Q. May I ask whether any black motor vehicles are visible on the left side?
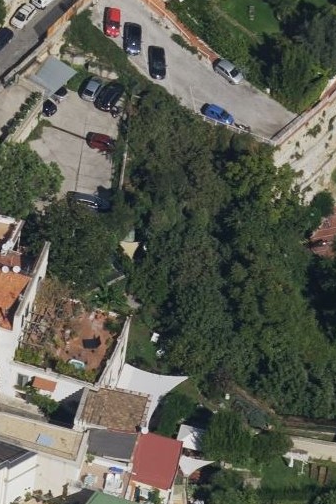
Yes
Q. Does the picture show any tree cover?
Yes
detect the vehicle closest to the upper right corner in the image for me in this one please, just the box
[210,58,245,87]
